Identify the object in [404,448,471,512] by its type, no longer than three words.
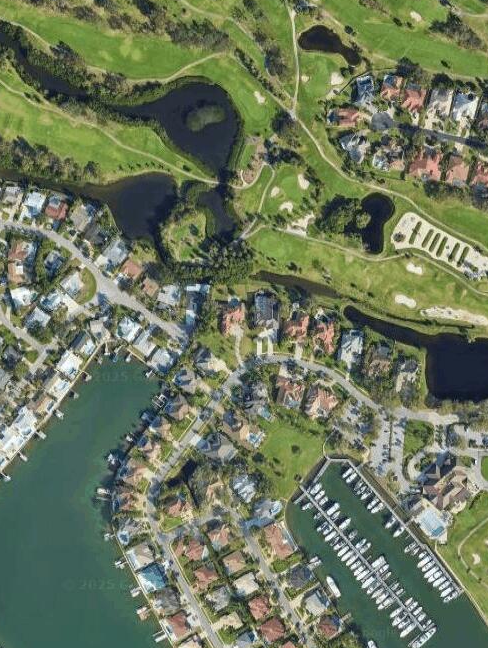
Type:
building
